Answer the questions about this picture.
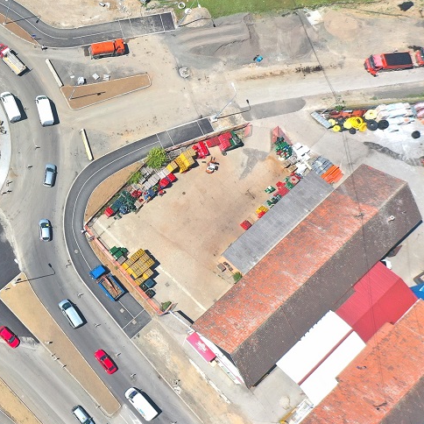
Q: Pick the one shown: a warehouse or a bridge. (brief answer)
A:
warehouse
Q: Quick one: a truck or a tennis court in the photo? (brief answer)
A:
truck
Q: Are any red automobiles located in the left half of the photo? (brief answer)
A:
Yes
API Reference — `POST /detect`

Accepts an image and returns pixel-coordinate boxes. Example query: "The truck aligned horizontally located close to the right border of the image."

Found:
[362,47,420,71]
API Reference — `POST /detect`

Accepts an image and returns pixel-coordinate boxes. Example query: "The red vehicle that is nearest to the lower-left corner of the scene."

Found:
[0,323,22,349]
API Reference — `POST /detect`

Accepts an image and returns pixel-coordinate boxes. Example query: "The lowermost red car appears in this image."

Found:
[95,347,119,376]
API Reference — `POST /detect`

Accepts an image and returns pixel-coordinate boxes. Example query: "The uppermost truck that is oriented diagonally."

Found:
[0,38,28,76]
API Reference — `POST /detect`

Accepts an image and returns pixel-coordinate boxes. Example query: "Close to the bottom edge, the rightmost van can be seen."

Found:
[126,385,161,424]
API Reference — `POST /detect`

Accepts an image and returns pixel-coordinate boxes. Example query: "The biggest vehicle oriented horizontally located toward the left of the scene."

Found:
[85,36,129,61]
